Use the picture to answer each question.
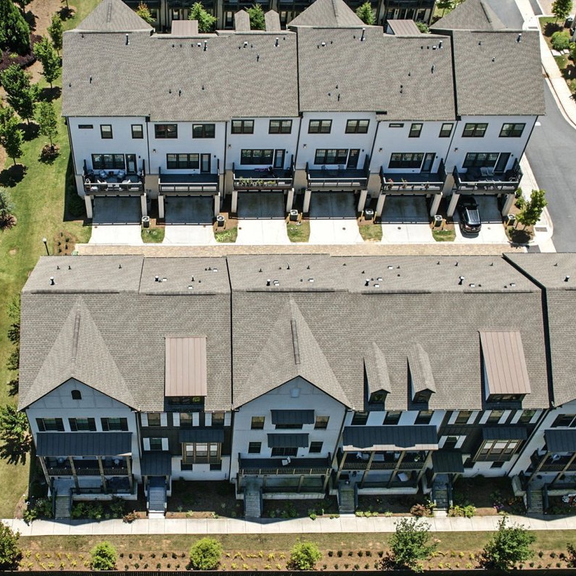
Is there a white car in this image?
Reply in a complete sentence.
No, this view has no white car in it.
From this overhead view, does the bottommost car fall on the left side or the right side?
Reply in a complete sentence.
You can find the bottommost car on the right side of the picture.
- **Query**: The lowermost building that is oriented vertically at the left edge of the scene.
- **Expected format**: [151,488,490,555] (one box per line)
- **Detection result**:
[16,253,143,516]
